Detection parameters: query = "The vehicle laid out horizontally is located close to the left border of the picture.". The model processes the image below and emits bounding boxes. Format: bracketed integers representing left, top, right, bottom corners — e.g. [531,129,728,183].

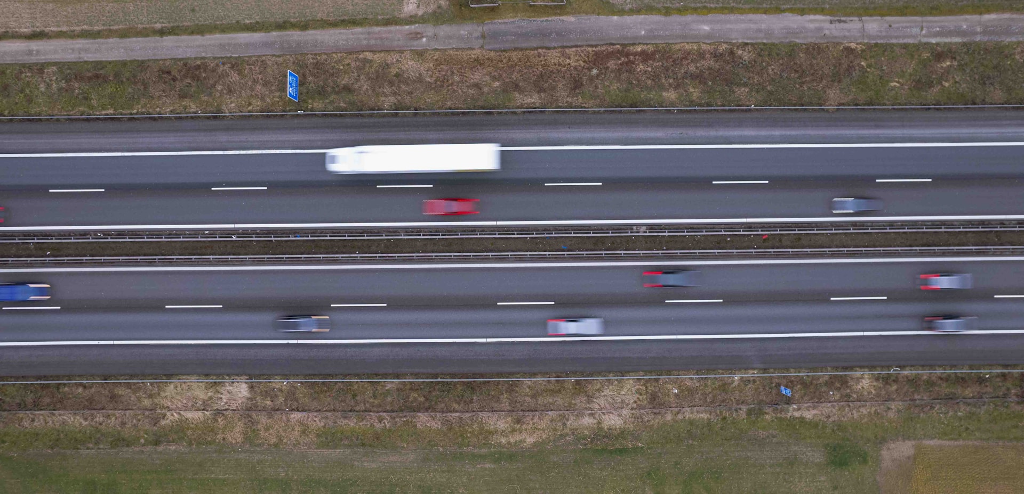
[0,282,51,302]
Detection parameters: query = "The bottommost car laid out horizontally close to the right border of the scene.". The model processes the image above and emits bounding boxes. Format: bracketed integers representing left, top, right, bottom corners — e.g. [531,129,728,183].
[925,314,973,333]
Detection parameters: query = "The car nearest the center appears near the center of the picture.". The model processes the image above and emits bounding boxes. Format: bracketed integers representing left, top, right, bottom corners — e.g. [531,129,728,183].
[428,197,475,216]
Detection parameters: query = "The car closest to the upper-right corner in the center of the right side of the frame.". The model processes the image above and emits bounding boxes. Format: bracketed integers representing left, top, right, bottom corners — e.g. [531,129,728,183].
[831,195,879,214]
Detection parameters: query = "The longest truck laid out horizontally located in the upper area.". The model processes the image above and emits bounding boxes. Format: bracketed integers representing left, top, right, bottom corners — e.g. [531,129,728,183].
[327,144,500,175]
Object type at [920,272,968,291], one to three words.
car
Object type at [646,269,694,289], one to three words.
car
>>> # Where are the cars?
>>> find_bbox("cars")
[428,197,475,216]
[552,317,600,336]
[646,269,694,289]
[280,315,328,334]
[920,272,968,291]
[831,195,879,214]
[925,314,973,333]
[0,282,51,302]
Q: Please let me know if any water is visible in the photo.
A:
No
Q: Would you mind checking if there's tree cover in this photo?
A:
No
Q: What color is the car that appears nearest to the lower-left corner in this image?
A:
blue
